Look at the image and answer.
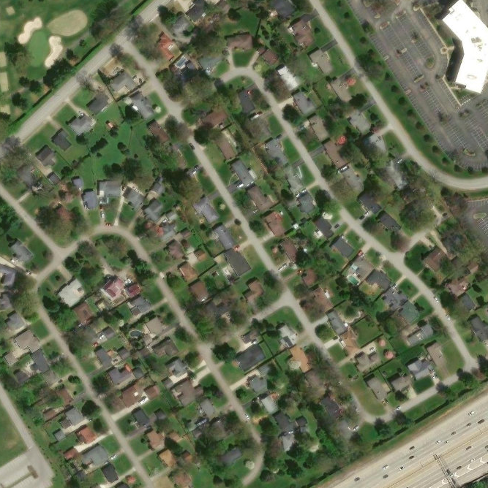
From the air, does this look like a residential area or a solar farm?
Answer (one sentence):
This image shows a residential area.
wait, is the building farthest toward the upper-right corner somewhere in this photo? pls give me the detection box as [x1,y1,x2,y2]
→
[439,0,488,96]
